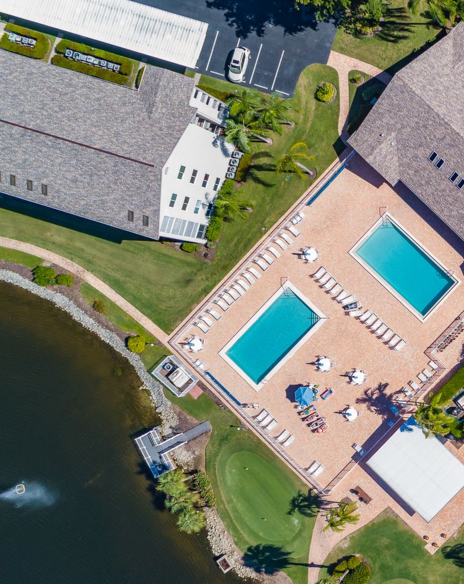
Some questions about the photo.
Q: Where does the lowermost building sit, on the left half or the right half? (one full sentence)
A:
You can find the lowermost building on the right side of the picture.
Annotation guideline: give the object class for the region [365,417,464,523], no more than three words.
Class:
building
